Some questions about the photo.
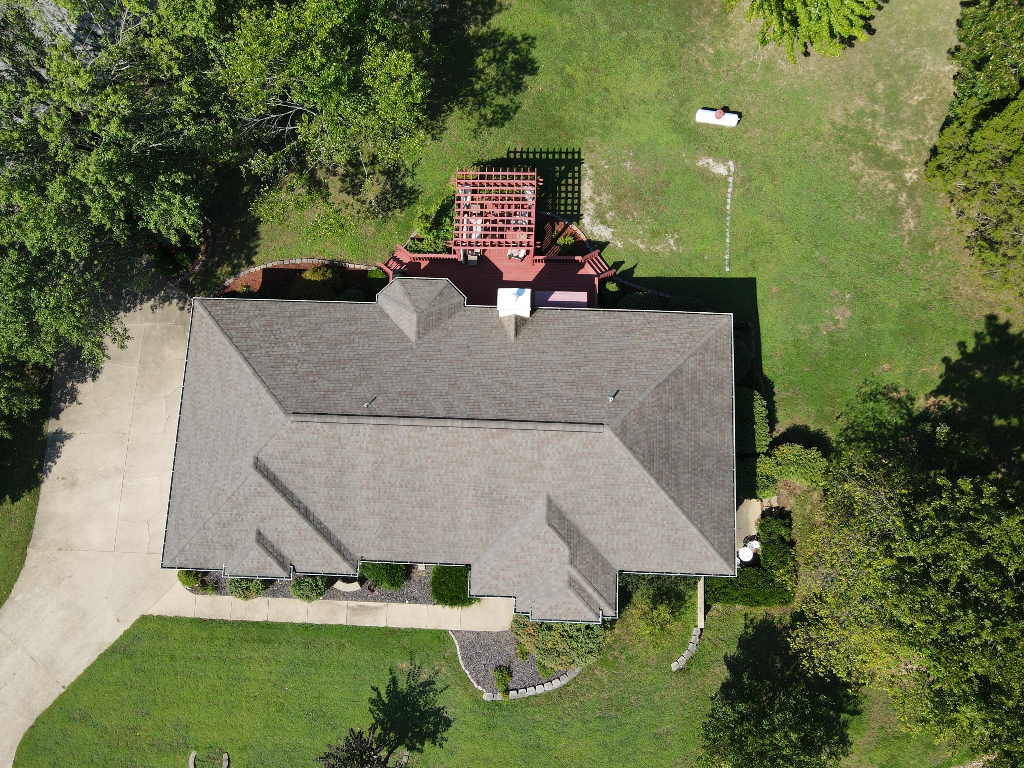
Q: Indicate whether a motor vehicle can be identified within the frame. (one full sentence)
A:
No, the scene contains no motor vehicle.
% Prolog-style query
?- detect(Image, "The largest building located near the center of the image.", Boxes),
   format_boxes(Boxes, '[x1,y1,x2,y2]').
[160,277,738,624]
